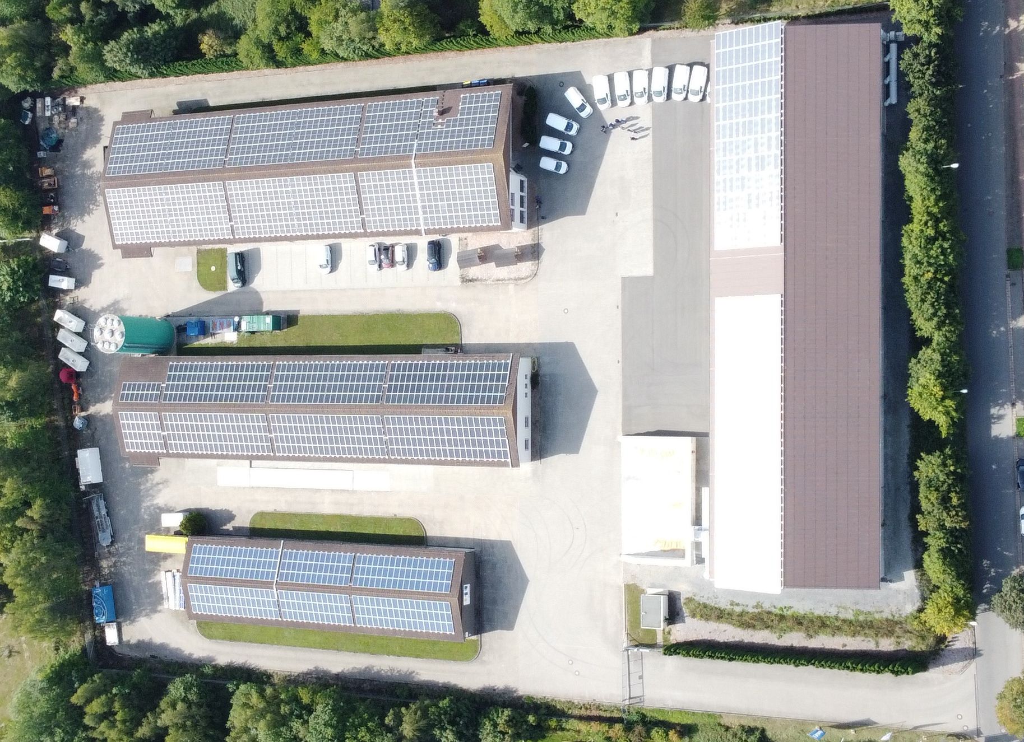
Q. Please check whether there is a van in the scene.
Yes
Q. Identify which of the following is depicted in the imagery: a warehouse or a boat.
warehouse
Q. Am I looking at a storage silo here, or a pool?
storage silo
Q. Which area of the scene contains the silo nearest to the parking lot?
left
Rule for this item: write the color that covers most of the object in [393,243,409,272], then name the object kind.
white car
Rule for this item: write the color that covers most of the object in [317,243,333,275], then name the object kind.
white vehicle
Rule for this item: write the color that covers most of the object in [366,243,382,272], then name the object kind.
white car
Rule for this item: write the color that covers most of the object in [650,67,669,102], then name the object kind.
white vehicle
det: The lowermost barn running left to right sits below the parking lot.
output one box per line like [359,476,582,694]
[181,535,475,643]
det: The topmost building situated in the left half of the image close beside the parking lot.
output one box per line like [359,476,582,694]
[100,83,527,257]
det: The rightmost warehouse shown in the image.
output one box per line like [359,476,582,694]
[709,20,892,595]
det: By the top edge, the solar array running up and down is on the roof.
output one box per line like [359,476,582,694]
[714,21,780,250]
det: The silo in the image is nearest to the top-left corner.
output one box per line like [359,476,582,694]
[84,313,178,355]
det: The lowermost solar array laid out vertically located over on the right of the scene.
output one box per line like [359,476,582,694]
[715,294,780,594]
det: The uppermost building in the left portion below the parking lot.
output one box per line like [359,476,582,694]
[111,353,531,468]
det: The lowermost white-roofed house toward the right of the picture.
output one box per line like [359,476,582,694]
[641,583,672,630]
